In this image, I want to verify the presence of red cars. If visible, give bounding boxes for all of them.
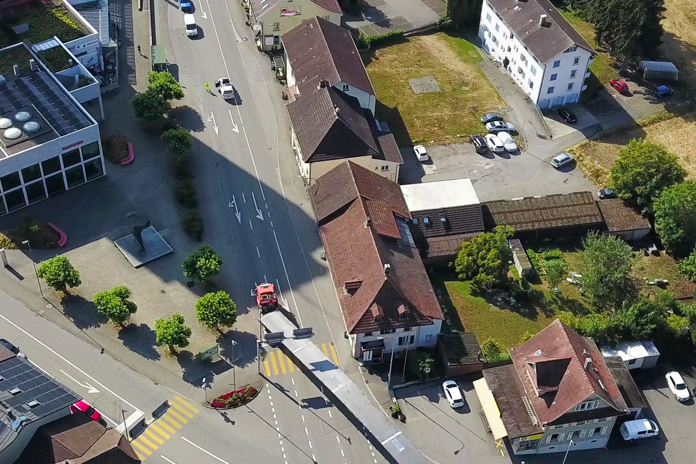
[607,80,631,96]
[75,399,104,425]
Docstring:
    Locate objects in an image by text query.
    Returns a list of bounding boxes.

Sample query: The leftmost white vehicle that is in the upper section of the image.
[184,12,198,35]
